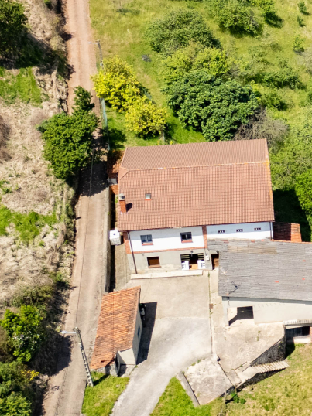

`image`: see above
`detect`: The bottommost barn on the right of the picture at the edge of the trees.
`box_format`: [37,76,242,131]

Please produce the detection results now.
[217,237,312,350]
